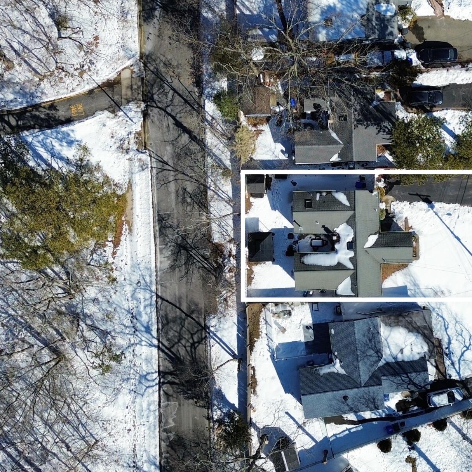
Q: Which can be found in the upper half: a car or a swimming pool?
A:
car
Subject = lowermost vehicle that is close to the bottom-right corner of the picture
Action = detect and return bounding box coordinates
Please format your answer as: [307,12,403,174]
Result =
[424,387,465,407]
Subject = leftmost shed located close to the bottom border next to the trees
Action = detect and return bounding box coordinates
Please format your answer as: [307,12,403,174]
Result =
[272,440,300,472]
